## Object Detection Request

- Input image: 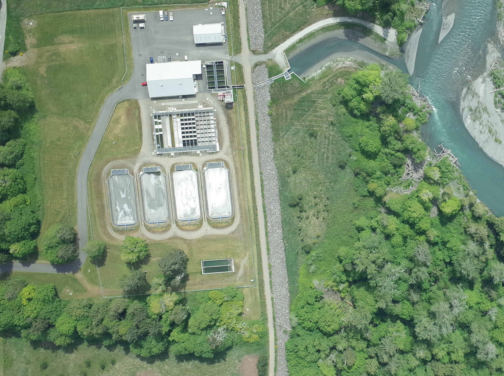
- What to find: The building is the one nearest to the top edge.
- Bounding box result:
[193,22,224,44]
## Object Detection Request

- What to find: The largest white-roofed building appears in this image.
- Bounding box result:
[146,59,201,98]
